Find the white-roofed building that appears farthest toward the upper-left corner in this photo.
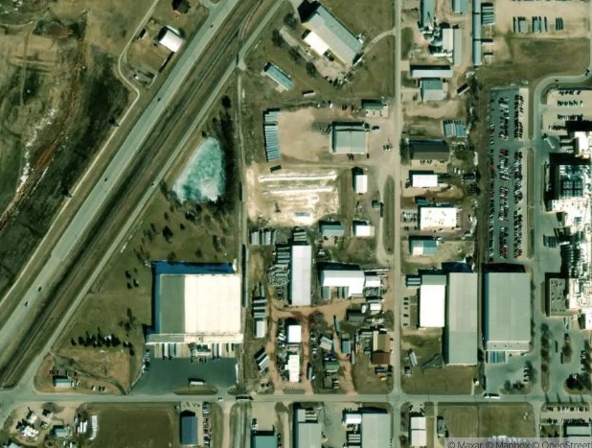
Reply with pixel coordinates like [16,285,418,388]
[157,28,183,52]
